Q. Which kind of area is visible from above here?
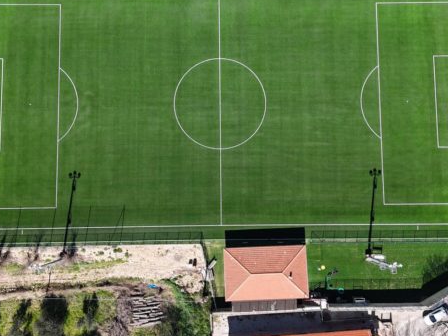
sports ground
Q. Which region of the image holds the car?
bottom right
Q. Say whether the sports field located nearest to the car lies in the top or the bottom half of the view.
bottom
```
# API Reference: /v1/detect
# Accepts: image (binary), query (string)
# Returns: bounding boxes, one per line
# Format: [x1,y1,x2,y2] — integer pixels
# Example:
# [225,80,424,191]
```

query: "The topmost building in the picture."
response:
[224,245,309,302]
